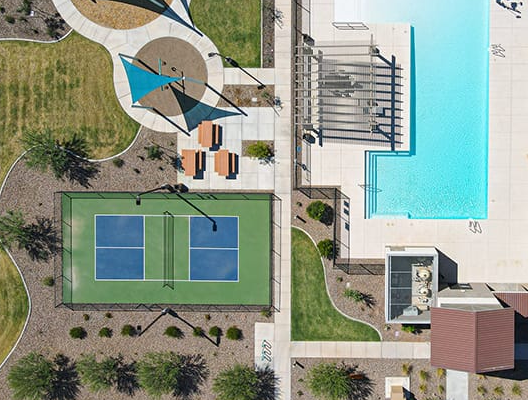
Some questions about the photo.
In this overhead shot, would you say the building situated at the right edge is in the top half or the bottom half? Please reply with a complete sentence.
You can find the building situated at the right edge in the bottom half.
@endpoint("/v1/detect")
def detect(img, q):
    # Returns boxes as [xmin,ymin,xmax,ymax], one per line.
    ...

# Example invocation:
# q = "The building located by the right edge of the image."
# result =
[425,278,528,373]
